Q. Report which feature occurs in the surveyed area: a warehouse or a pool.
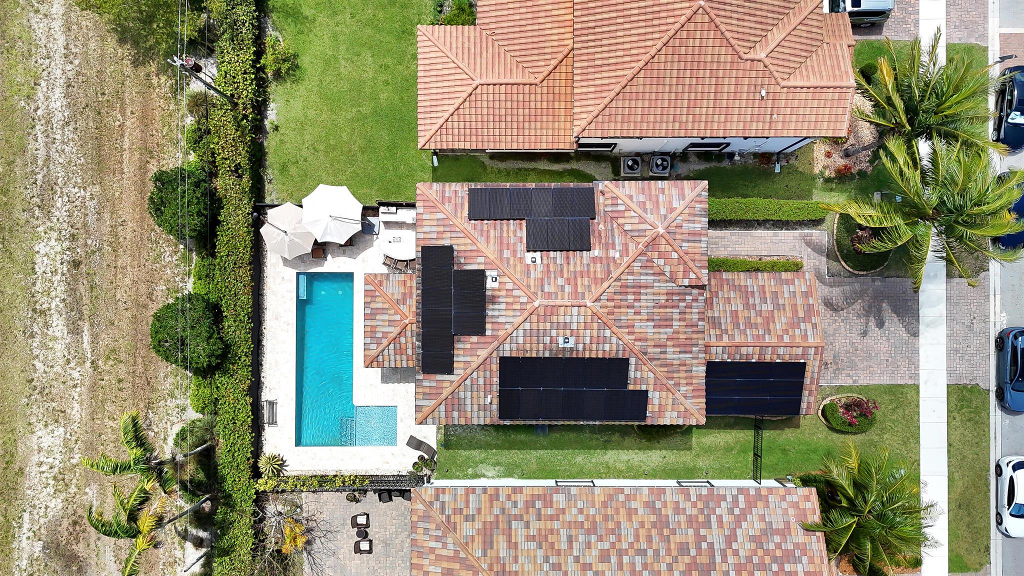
pool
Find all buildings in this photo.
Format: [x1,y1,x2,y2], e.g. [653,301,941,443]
[362,178,828,435]
[415,0,861,159]
[408,479,833,576]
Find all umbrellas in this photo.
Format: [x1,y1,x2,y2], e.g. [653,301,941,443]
[302,184,373,244]
[259,202,316,259]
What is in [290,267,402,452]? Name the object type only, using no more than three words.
swimming pool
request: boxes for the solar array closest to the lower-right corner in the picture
[706,359,807,417]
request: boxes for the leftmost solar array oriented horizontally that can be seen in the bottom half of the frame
[496,358,650,422]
